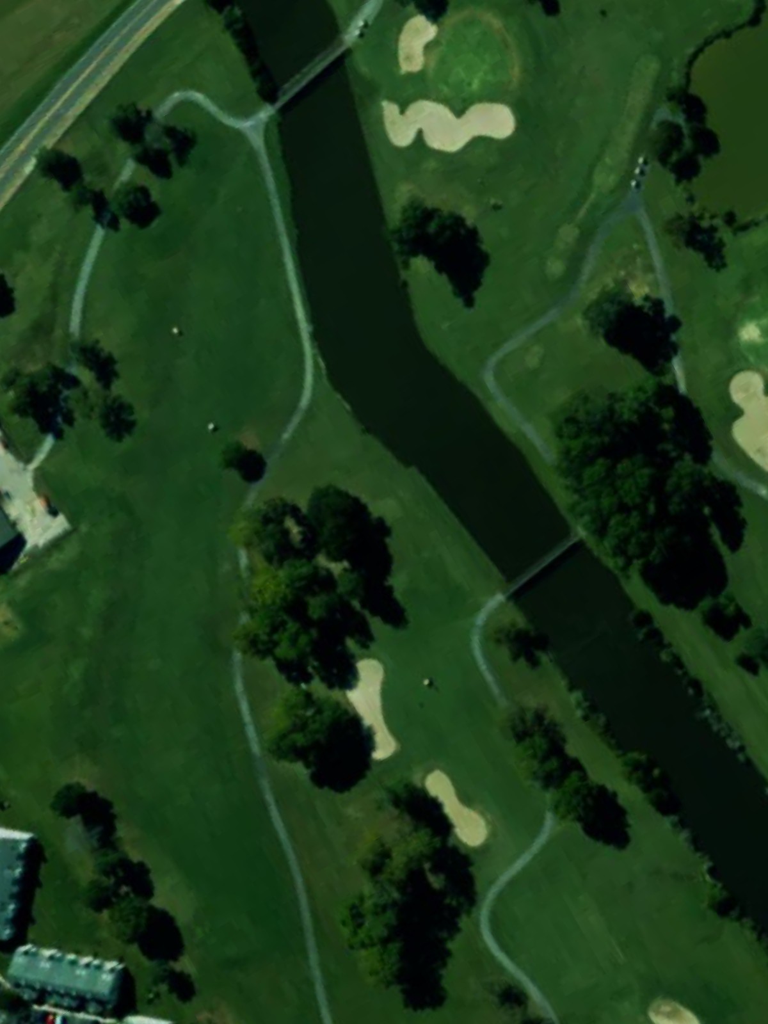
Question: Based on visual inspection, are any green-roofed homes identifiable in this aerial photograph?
Yes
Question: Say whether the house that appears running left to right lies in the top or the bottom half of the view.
bottom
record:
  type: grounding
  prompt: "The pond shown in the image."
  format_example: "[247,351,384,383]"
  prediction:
[690,4,768,228]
